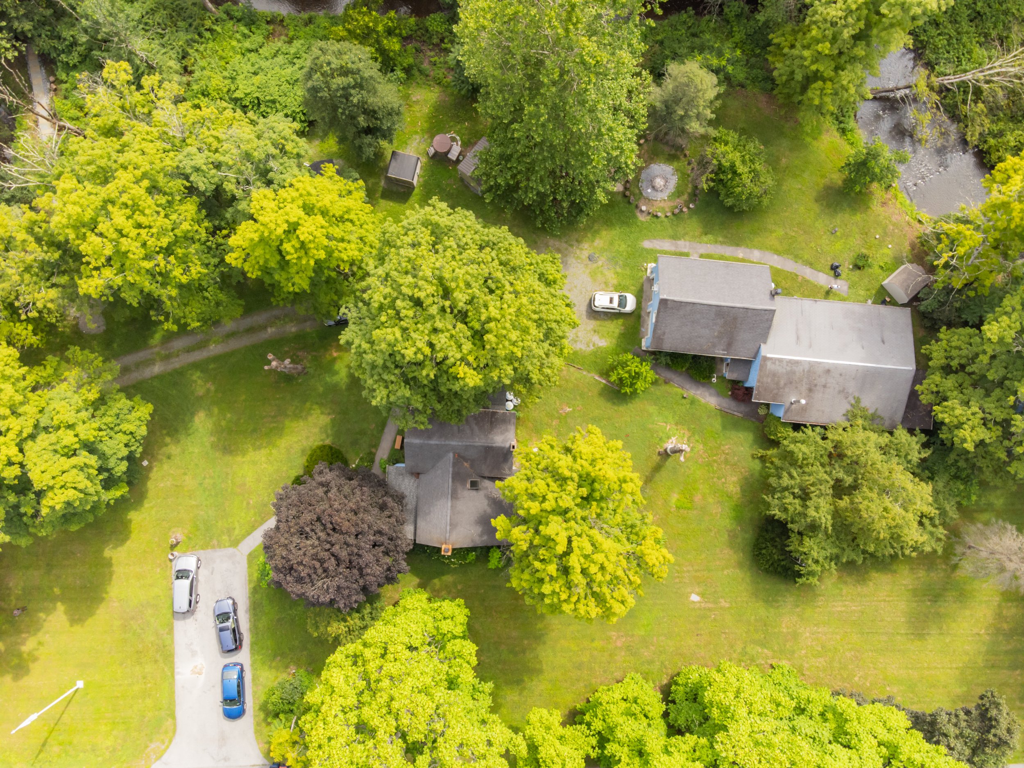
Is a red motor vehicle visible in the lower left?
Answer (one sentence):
No, there is no red motor vehicle in the lower left.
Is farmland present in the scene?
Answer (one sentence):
No, there is no farmland in the image.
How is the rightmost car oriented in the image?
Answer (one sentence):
Seen from above, the rightmost car lies from left to right.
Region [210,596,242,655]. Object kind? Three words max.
car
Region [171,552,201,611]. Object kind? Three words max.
car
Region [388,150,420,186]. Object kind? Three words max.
shed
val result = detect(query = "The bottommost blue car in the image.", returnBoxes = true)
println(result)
[219,662,247,721]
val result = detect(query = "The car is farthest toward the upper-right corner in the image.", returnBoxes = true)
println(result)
[591,290,637,314]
